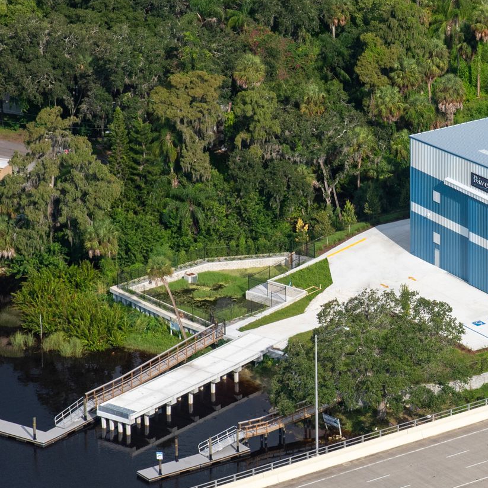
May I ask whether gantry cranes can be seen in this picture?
No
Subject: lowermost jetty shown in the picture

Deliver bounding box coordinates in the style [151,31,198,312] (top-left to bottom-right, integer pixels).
[137,442,251,486]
